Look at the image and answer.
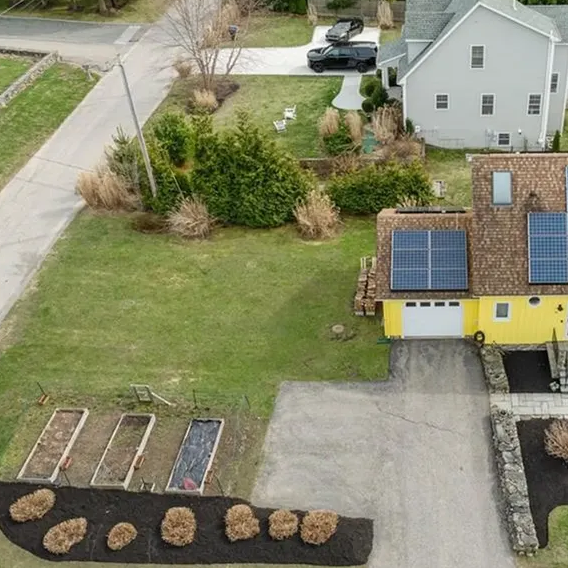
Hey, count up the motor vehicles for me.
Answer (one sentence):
The photo contains 2 motor vehicles.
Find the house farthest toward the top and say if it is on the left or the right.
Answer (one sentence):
You can find the house farthest toward the top on the right side of the picture.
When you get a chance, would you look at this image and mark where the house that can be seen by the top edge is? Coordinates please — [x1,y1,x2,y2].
[372,0,568,148]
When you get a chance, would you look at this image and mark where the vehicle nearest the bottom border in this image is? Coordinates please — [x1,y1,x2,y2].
[310,40,377,69]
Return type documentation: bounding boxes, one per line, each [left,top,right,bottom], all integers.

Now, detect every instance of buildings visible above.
[376,151,568,352]
[372,0,568,148]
